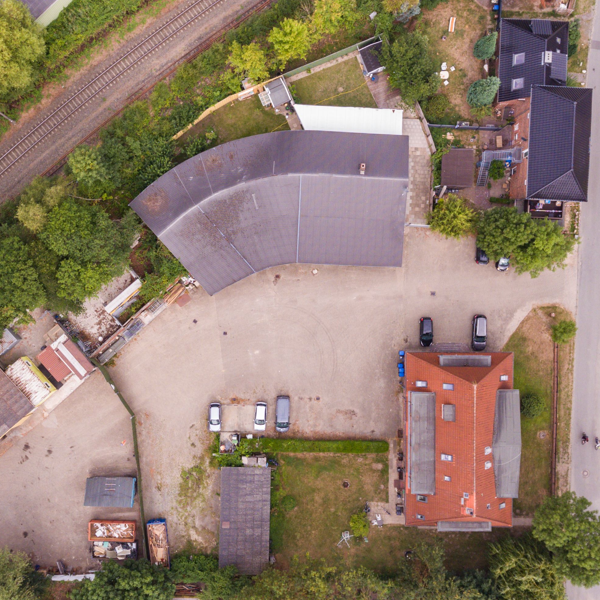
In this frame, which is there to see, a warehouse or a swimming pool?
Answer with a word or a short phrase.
warehouse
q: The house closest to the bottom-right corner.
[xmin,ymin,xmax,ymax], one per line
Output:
[404,351,521,531]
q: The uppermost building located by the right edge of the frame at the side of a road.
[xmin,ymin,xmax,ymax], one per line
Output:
[494,18,570,105]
